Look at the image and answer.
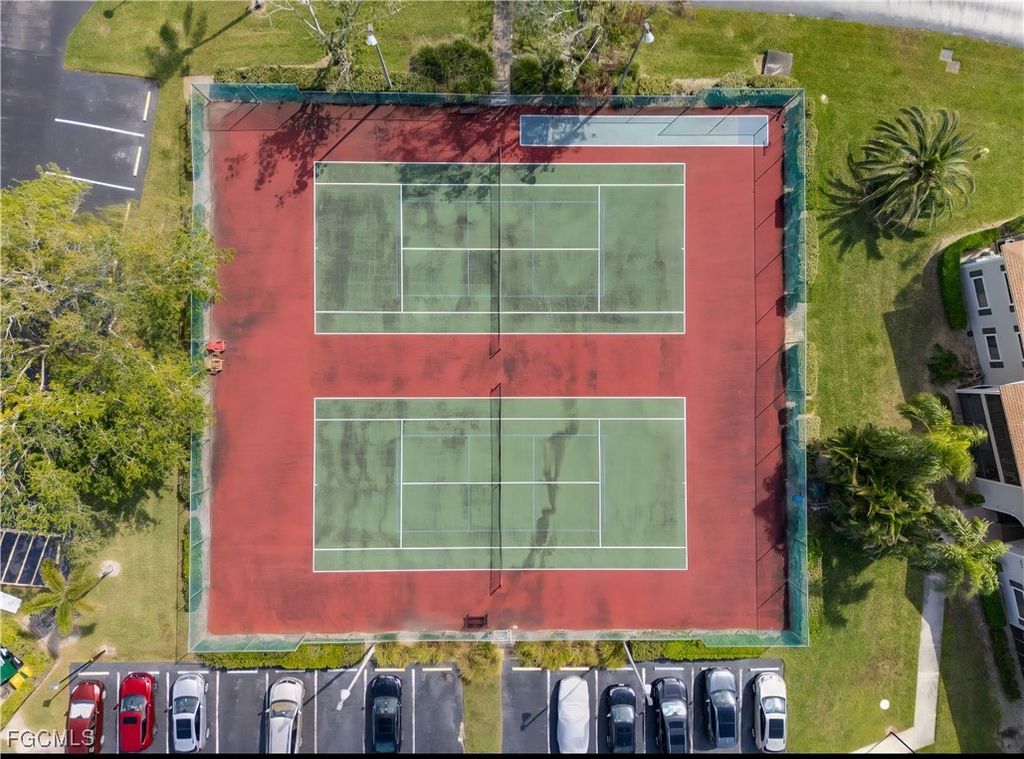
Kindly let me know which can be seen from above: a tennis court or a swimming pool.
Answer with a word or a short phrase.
tennis court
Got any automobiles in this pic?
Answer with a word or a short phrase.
Yes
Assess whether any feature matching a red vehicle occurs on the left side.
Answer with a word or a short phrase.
Yes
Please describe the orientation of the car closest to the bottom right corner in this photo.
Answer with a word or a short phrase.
from top to bottom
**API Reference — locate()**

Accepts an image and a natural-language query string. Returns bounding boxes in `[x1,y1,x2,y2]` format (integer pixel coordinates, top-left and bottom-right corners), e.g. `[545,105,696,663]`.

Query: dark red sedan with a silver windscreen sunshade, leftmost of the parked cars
[63,680,105,759]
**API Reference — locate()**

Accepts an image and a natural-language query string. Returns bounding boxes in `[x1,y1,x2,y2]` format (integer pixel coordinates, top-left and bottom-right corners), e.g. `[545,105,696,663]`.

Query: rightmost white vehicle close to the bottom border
[753,671,793,751]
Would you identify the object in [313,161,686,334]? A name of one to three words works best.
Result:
tennis court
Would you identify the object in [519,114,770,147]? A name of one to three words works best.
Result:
sports court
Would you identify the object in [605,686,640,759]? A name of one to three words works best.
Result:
car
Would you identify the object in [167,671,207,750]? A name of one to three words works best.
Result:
car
